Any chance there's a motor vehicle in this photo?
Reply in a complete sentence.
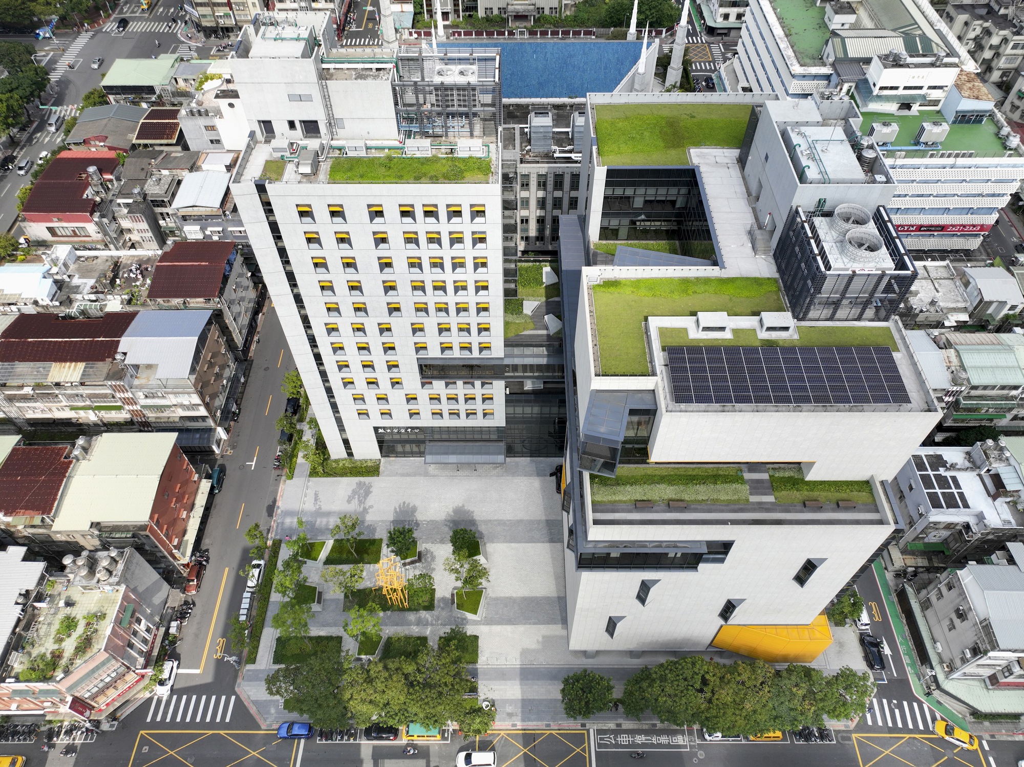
Yes, a motor vehicle appears in the view.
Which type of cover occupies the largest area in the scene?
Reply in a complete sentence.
The bulk of the photo consists of buildings.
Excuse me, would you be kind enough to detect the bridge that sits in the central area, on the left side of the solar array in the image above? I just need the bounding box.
[506,345,559,373]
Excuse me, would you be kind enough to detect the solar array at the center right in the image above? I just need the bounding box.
[663,350,910,407]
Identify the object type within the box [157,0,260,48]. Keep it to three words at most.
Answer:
building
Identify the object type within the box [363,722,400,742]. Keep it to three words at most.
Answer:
car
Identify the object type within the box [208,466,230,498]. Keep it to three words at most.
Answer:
vehicle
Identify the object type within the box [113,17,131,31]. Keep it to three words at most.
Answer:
car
